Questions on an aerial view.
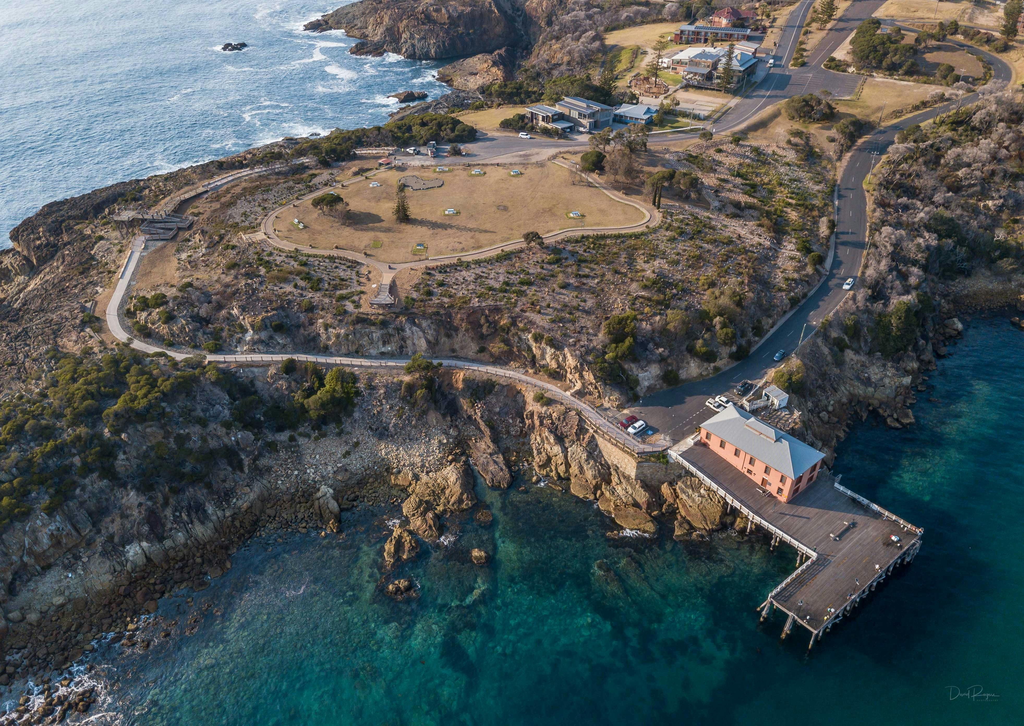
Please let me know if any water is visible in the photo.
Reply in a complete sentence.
Yes, the picture does contain water.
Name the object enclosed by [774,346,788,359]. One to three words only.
vehicle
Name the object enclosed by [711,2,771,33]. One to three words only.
house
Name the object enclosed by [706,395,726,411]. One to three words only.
vehicle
